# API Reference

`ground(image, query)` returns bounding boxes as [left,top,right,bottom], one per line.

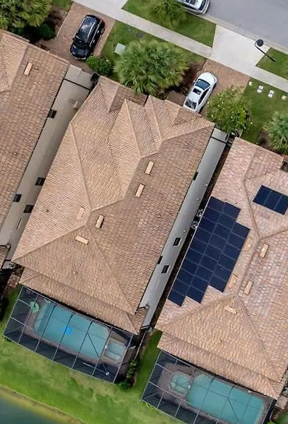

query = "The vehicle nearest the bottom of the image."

[183,70,217,115]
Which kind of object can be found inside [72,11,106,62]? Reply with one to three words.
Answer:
car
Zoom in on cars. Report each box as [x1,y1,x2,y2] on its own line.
[186,0,213,18]
[183,70,217,115]
[72,11,106,62]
